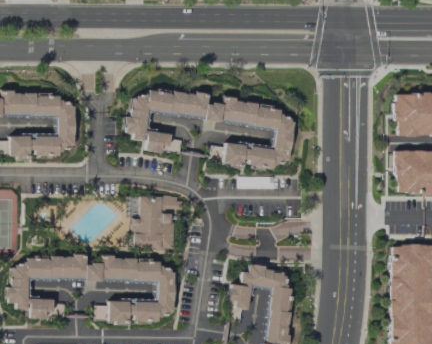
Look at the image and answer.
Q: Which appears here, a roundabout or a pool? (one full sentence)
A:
Looking from above, you can make out a pool.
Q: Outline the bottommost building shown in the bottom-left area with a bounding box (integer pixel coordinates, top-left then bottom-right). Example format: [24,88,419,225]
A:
[5,254,176,325]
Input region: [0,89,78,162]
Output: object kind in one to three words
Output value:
building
